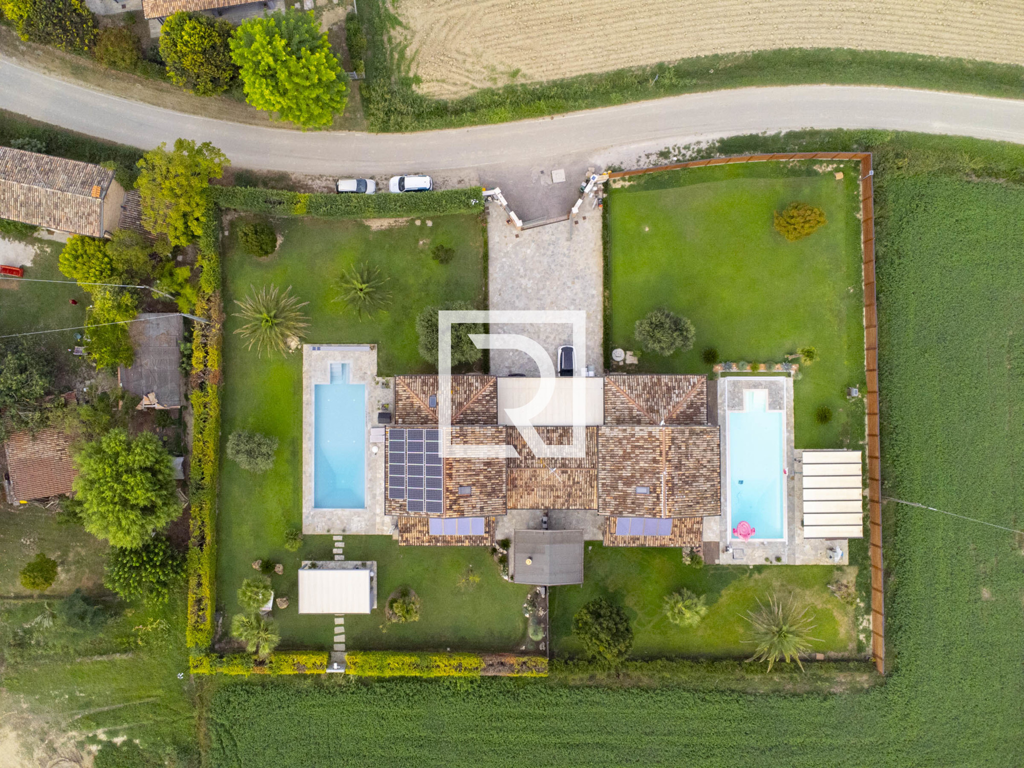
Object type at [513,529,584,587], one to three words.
shed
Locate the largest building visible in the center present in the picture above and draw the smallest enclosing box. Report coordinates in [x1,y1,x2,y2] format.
[384,374,722,547]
